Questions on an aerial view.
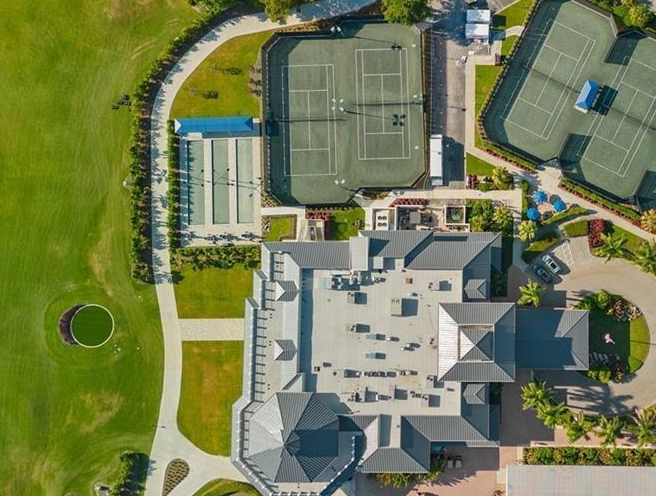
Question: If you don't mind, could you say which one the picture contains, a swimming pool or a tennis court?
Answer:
tennis court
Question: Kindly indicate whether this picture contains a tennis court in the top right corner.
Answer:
Yes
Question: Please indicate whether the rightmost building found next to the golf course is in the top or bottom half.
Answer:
bottom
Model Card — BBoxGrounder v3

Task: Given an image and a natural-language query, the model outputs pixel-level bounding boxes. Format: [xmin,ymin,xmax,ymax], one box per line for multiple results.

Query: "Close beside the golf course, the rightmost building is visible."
[232,231,590,496]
